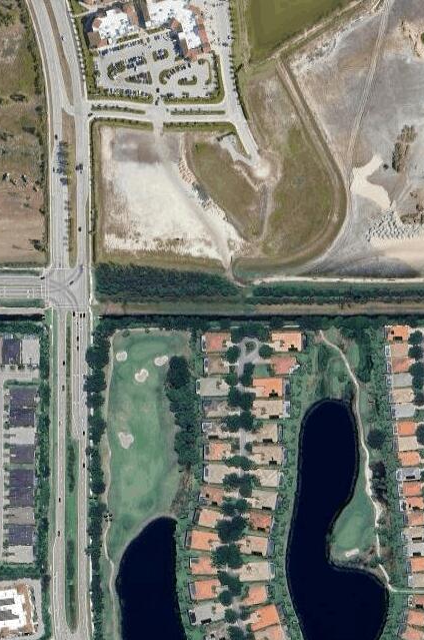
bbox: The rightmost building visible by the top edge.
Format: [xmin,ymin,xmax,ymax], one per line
[140,0,212,60]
